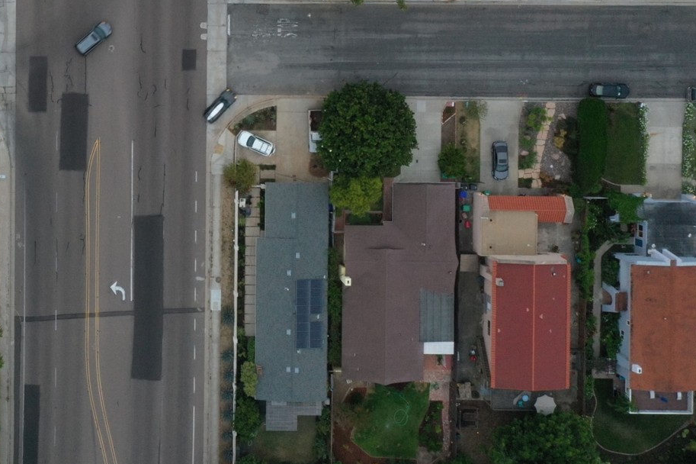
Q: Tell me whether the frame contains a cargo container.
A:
No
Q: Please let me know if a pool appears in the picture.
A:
No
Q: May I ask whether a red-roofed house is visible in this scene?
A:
Yes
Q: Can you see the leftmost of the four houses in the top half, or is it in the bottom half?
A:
bottom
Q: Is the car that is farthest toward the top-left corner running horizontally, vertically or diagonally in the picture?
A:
diagonally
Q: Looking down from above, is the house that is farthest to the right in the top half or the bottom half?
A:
bottom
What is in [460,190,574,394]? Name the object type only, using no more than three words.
house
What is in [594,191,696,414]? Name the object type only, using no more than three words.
house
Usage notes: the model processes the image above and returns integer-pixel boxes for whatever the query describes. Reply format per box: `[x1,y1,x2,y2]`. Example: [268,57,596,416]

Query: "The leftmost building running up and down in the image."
[255,182,329,431]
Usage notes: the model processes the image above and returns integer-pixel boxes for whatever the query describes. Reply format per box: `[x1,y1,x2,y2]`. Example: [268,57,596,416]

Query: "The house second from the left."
[337,182,460,384]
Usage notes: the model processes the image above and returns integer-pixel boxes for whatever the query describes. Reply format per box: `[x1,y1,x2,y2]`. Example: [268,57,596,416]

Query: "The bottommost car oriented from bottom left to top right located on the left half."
[201,88,236,123]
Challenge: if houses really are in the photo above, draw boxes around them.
[337,182,460,384]
[460,190,574,394]
[255,182,329,431]
[594,191,696,414]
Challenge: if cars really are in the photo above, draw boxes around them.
[588,82,628,99]
[491,141,509,180]
[201,88,236,123]
[236,129,275,156]
[685,86,696,101]
[74,21,112,55]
